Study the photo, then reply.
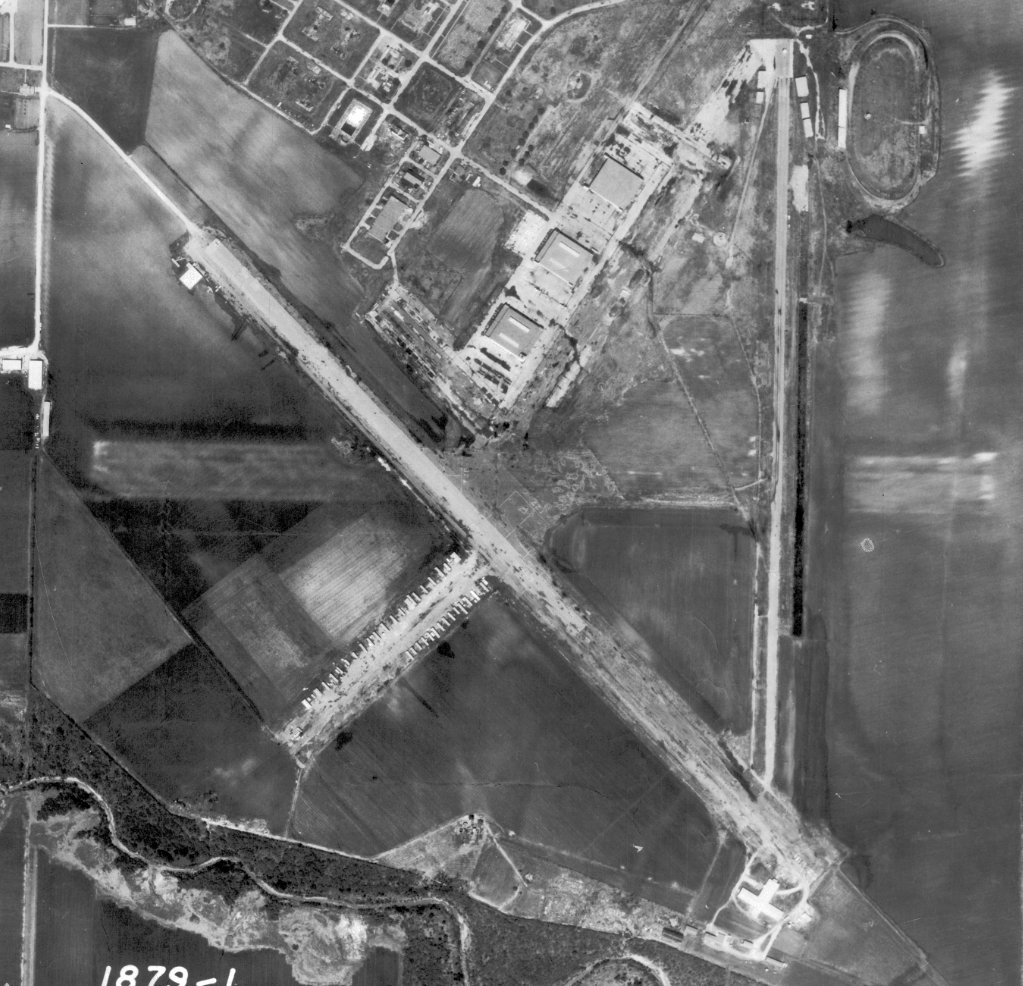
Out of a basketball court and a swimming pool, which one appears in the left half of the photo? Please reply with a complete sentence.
You can see a swimming pool in the left half of the photo.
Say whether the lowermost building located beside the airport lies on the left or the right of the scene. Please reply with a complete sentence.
The lowermost building located beside the airport sits on the right side.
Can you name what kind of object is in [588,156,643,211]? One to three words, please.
hangar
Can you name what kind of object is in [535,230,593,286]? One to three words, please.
hangar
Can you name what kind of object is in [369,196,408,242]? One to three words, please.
building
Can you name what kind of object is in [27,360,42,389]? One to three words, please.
building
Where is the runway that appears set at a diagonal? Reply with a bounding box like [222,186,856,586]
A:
[207,240,584,634]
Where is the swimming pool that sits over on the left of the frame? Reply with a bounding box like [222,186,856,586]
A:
[330,99,371,145]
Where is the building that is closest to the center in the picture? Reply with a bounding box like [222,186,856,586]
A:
[486,304,543,360]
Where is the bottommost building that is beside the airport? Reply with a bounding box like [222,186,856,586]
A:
[738,878,785,922]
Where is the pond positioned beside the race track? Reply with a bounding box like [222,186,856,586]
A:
[851,216,944,268]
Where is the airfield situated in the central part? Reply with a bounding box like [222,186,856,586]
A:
[185,40,845,888]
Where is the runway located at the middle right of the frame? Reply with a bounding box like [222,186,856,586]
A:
[766,78,790,783]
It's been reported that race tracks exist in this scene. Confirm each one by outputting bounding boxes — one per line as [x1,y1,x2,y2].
[843,28,930,211]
